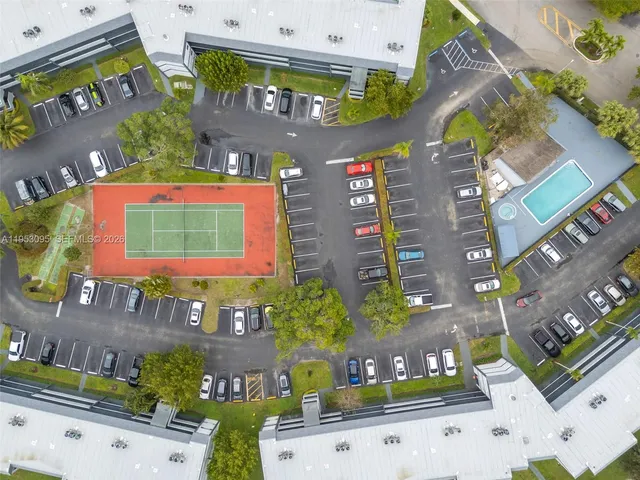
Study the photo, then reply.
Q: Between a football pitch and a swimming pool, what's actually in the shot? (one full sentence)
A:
Of the two, only a swimming pool appears.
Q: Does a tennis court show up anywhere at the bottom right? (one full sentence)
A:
No, at the bottom right there is no tennis court.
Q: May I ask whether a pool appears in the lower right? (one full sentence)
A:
No, there is no pool in the lower right.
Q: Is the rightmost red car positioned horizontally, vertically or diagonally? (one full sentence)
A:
In this picture, the rightmost red car lies diagonally.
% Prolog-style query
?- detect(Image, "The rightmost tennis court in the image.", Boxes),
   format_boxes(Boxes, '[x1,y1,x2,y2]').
[93,183,277,277]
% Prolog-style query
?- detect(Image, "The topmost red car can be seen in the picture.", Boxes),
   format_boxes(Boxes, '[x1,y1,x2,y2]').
[347,162,372,174]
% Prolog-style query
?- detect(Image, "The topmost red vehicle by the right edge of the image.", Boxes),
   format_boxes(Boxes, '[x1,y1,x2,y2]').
[591,202,612,225]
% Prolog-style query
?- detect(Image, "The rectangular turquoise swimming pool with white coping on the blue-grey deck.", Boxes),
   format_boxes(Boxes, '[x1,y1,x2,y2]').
[522,161,592,224]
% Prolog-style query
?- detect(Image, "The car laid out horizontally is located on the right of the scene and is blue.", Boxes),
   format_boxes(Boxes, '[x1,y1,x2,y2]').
[398,249,424,262]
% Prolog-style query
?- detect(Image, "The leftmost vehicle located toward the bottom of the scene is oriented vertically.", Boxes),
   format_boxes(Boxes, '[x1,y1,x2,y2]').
[9,331,27,360]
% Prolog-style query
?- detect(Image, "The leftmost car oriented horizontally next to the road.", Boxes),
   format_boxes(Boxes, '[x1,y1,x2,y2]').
[279,167,303,179]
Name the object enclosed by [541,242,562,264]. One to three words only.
car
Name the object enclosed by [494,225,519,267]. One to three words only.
shed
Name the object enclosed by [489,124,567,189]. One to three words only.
building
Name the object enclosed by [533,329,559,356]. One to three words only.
vehicle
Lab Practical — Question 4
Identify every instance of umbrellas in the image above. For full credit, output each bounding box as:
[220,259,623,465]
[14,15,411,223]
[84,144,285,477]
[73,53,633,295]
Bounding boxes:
[490,172,501,184]
[496,179,508,192]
